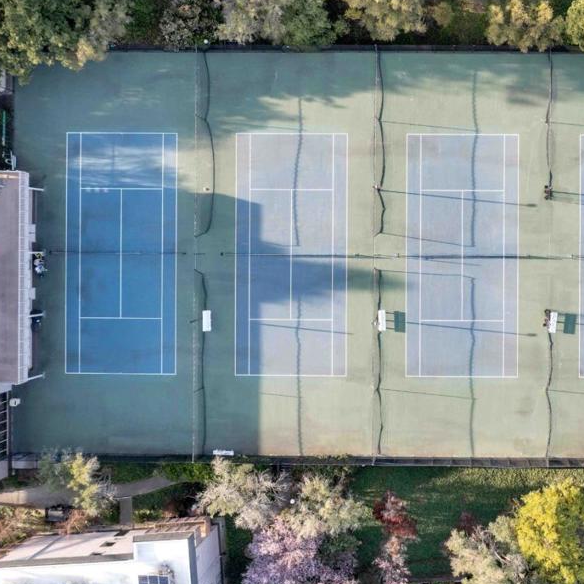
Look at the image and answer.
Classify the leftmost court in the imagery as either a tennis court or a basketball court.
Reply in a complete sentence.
It looks like the leftmost court is a tennis court.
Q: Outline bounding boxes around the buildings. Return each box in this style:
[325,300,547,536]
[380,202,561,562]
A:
[0,520,228,584]
[0,170,46,490]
